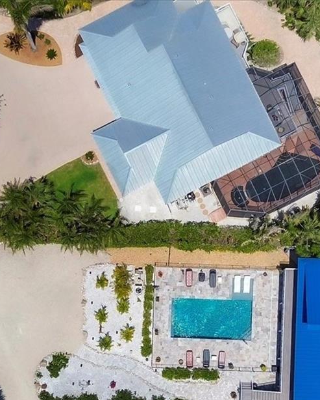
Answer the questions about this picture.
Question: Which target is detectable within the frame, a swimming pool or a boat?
swimming pool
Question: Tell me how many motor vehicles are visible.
zero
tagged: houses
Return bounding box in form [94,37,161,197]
[78,0,281,204]
[275,258,320,400]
